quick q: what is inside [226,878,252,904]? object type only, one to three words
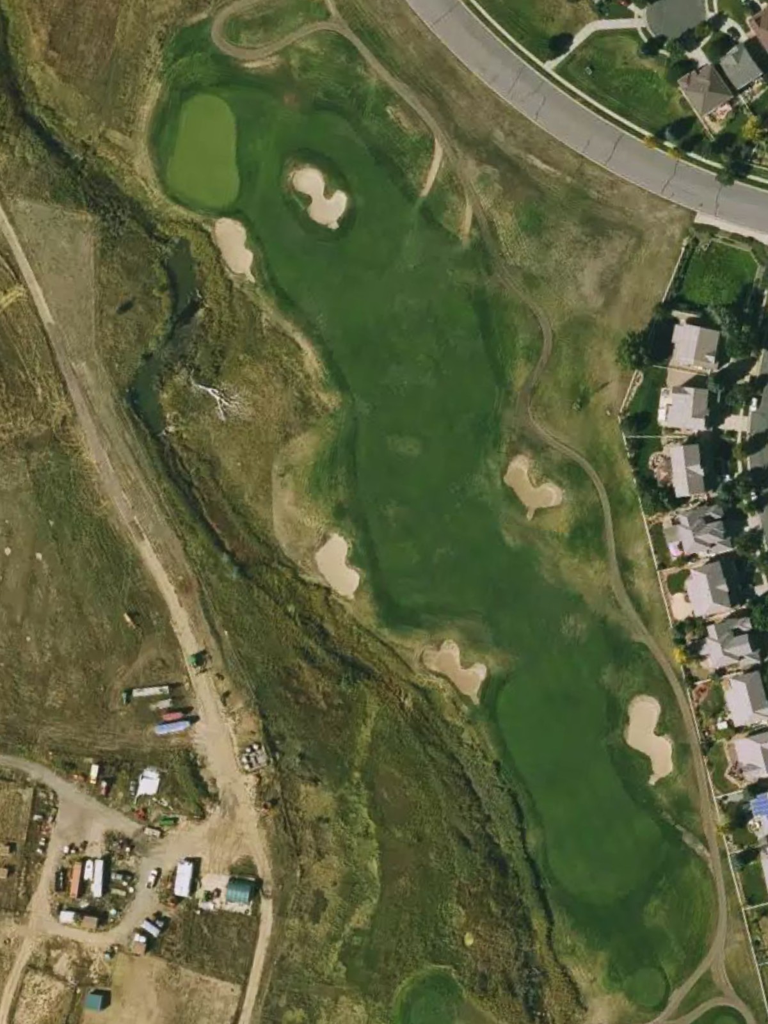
barn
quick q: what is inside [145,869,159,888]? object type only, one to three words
vehicle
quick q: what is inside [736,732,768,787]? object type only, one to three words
house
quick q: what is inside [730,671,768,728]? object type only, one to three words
house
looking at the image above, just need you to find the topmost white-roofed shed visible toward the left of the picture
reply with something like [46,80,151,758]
[135,767,159,803]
